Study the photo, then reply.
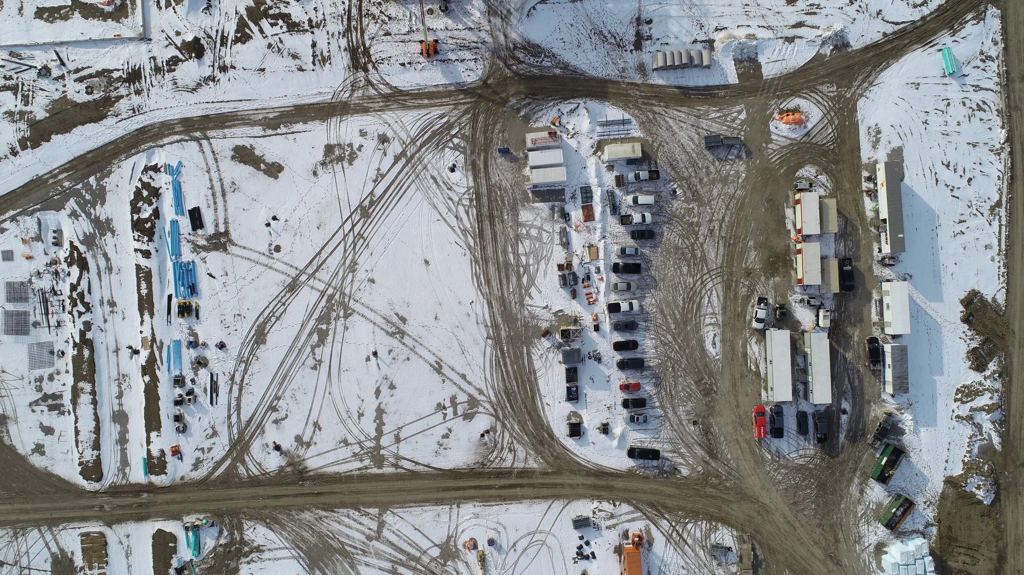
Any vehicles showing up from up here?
Yes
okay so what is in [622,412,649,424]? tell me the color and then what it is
gray vehicle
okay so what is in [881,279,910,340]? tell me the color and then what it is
white trailer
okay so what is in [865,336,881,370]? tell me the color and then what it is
black vehicle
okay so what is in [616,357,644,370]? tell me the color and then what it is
black vehicle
